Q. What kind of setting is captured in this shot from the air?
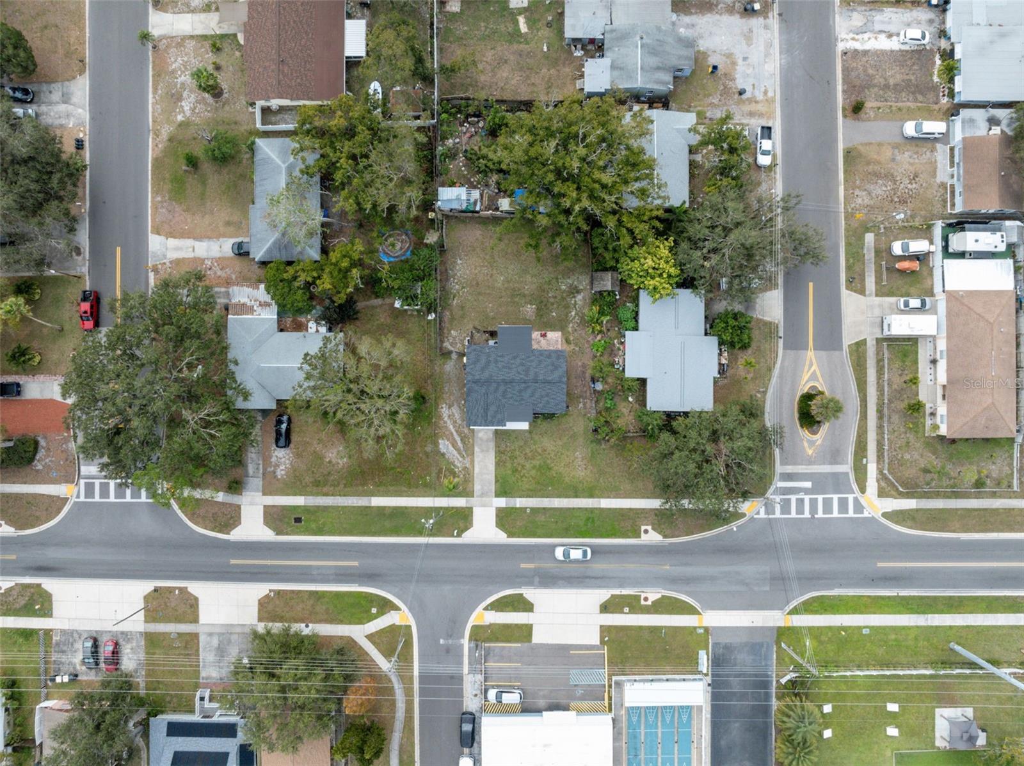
residential area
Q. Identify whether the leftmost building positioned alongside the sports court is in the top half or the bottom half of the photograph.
bottom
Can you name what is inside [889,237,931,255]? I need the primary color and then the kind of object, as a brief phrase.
white car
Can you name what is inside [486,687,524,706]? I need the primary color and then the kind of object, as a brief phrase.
white car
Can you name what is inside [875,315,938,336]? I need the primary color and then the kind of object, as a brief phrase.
white camper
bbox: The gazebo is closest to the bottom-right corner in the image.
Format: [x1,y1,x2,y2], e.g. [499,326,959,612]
[935,708,987,749]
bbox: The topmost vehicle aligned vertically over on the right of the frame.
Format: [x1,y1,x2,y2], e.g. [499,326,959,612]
[755,123,774,167]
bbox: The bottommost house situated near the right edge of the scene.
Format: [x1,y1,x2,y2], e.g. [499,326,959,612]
[935,259,1016,438]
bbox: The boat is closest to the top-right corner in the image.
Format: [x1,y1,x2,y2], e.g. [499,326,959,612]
[887,260,925,273]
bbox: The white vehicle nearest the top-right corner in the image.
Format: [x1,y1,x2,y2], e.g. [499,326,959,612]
[897,27,931,45]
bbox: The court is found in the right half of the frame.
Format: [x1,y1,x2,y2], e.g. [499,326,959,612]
[613,680,704,766]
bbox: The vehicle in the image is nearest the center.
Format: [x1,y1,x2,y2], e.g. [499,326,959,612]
[554,545,591,562]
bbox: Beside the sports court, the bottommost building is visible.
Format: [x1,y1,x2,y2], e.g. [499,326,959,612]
[482,709,612,766]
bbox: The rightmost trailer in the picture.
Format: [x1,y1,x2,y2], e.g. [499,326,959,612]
[941,225,1010,259]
